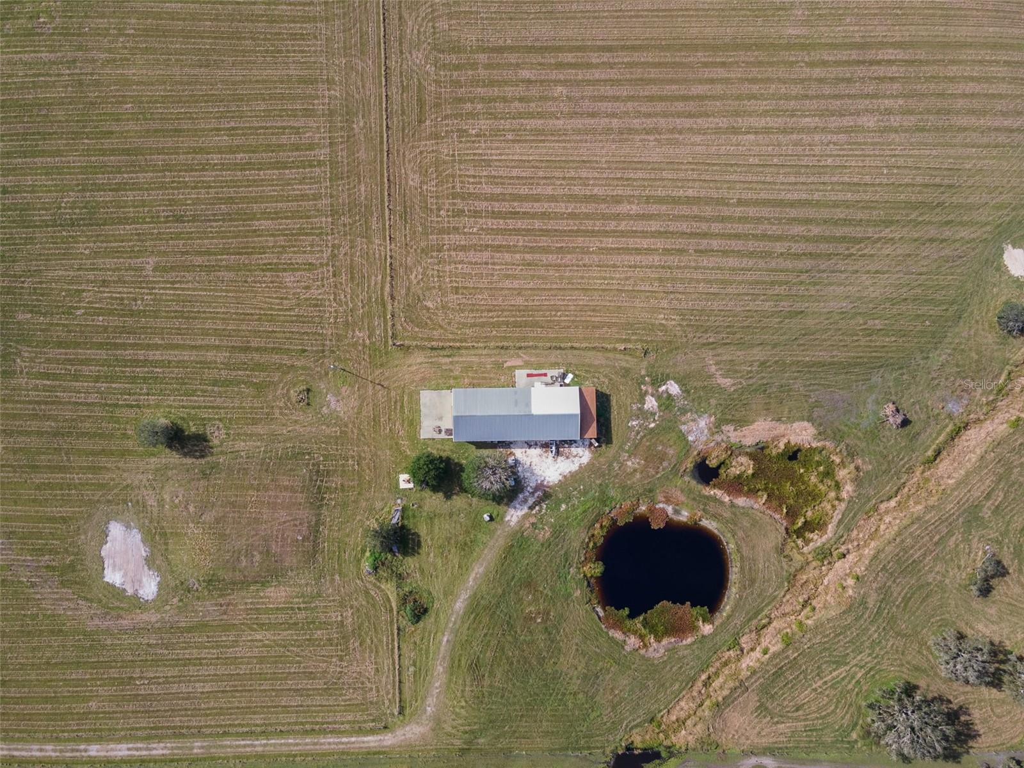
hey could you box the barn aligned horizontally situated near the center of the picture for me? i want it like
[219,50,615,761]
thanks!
[451,382,597,442]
